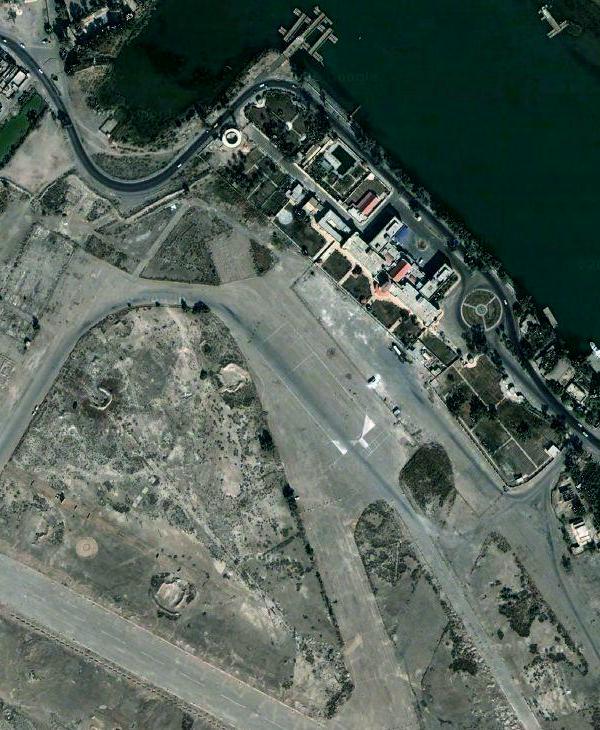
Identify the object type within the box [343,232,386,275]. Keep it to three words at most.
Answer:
building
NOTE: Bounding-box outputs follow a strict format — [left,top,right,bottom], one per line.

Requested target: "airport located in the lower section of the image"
[0,250,571,730]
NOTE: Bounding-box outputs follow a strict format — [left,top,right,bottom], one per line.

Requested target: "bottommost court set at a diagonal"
[420,331,460,366]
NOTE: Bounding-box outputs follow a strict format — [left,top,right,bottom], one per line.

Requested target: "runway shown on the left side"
[0,556,340,730]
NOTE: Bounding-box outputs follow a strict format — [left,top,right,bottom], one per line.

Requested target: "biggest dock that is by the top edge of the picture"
[260,6,332,78]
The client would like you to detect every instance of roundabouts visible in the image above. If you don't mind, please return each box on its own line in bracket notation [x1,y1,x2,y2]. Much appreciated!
[460,289,502,331]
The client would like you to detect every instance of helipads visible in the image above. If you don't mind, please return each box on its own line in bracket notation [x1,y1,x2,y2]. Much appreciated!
[76,536,98,557]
